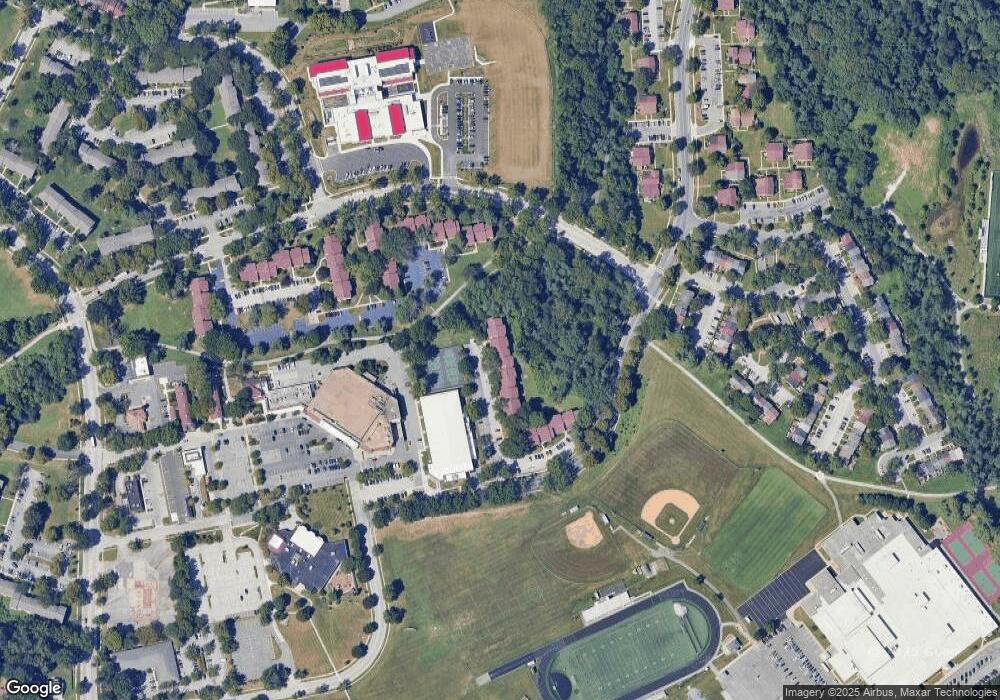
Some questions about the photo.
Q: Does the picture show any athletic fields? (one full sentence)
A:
Yes, an athletic field appears in the view.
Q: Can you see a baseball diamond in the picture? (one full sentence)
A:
Yes, this view includes a baseball diamond.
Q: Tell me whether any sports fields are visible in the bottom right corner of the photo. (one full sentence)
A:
Yes, a sports field appears in the bottom right corner of the photo.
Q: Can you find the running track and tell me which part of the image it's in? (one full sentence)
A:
You can find the running track in the bottom area of the picture.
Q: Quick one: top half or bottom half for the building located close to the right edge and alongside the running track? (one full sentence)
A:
It is in the bottom half that the building located close to the right edge and alongside the running track appears.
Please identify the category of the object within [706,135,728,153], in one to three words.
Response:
house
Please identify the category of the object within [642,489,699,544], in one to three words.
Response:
baseball field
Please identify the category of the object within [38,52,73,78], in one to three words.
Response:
building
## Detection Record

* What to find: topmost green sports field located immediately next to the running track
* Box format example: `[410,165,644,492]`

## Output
[705,468,828,592]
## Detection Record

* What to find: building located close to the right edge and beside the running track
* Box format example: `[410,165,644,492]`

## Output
[800,511,1000,700]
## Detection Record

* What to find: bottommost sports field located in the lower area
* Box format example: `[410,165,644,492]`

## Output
[549,598,707,700]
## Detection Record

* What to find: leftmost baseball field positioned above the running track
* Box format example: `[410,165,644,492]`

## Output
[566,512,603,549]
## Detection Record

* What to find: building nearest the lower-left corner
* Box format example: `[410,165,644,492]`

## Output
[0,581,67,621]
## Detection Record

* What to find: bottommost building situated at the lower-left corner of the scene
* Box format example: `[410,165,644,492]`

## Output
[113,641,180,683]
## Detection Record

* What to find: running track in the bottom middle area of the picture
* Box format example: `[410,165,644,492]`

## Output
[474,581,716,700]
